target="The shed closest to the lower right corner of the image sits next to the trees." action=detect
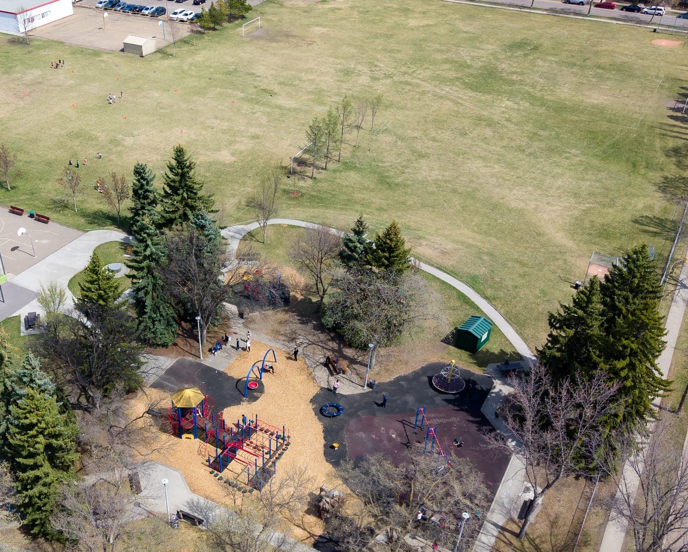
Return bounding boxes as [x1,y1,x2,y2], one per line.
[457,311,495,355]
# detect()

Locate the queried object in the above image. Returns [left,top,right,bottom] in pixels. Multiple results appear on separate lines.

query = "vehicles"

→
[179,13,193,22]
[130,5,145,14]
[189,12,201,22]
[120,3,135,13]
[112,1,128,10]
[92,0,106,9]
[621,6,642,14]
[594,2,615,10]
[169,8,186,20]
[104,0,120,8]
[564,0,589,6]
[151,6,166,16]
[678,13,688,20]
[193,0,207,6]
[140,6,155,15]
